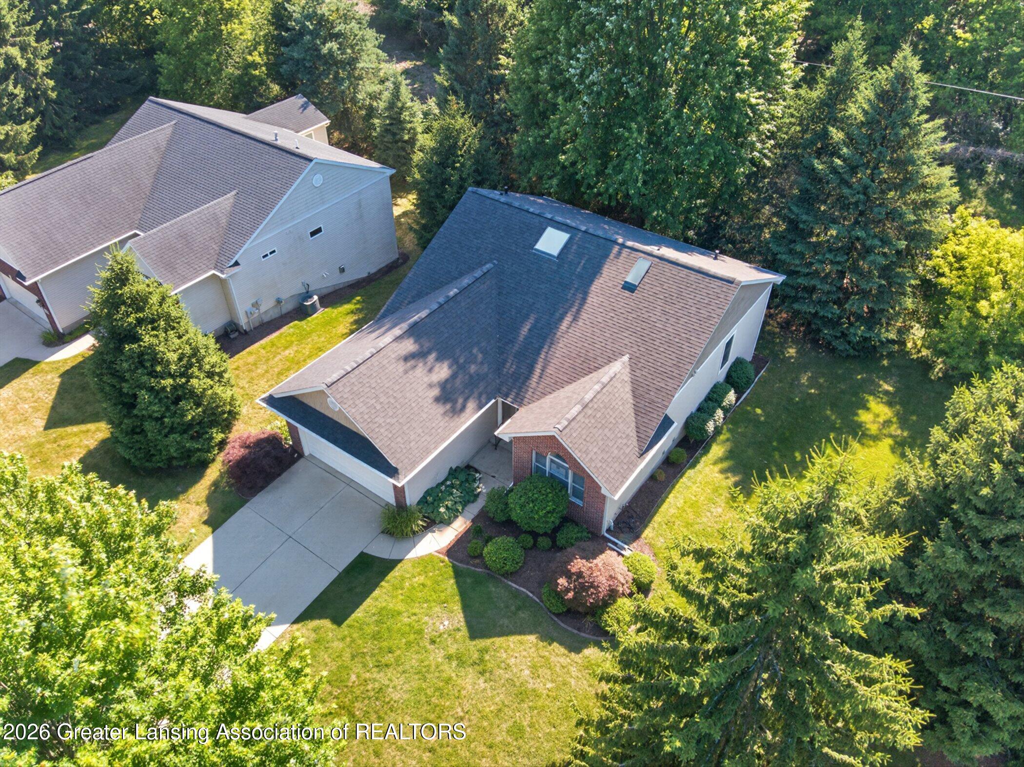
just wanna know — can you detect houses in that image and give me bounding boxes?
[253,184,787,553]
[0,94,396,346]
